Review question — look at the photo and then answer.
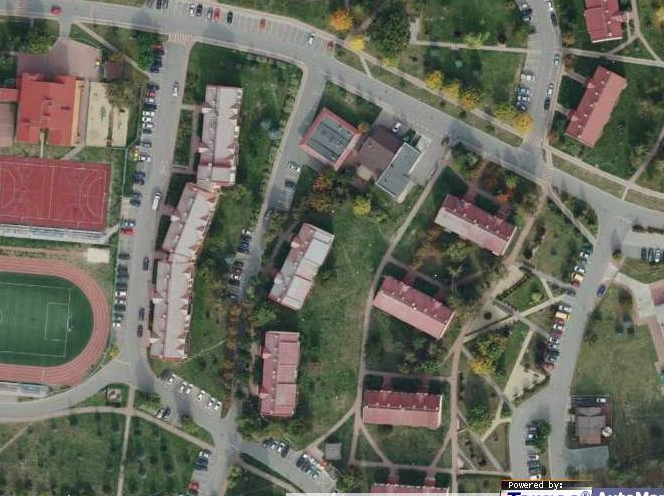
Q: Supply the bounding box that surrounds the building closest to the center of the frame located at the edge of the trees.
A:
[270,225,335,310]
